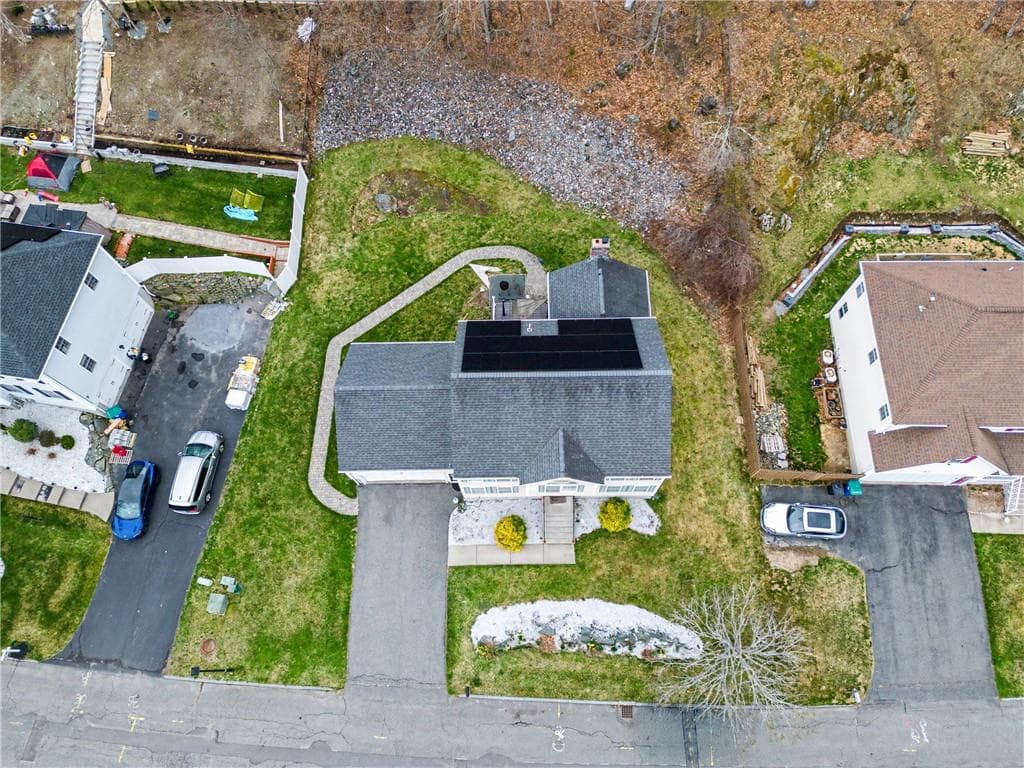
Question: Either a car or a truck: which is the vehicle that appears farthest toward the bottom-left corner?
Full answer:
What you see as the vehicle that appears farthest toward the bottom-left corner is a car.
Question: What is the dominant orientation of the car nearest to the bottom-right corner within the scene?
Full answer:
In this picture, the car nearest to the bottom-right corner is oriented horizontally.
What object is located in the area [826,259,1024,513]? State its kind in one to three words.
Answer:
house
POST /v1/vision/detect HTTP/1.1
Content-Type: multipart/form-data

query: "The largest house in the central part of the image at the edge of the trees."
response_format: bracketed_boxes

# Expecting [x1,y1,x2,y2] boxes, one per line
[331,234,677,548]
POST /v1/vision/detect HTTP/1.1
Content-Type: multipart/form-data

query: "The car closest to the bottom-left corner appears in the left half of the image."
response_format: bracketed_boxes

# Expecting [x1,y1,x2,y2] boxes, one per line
[111,459,164,541]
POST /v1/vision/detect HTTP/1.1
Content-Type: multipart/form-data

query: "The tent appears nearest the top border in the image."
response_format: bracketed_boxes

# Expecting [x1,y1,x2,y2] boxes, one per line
[23,153,83,191]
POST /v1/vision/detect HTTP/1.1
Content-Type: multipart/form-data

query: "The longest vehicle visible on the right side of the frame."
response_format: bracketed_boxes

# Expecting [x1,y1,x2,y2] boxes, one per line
[760,499,851,541]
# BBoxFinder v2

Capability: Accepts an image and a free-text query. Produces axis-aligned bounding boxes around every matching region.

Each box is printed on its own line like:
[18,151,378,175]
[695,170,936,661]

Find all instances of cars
[760,499,851,541]
[111,459,164,541]
[171,431,228,515]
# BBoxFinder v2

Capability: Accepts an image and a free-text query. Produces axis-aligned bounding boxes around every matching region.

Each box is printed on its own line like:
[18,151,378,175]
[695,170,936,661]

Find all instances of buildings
[826,259,1024,513]
[0,220,154,414]
[331,234,677,548]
